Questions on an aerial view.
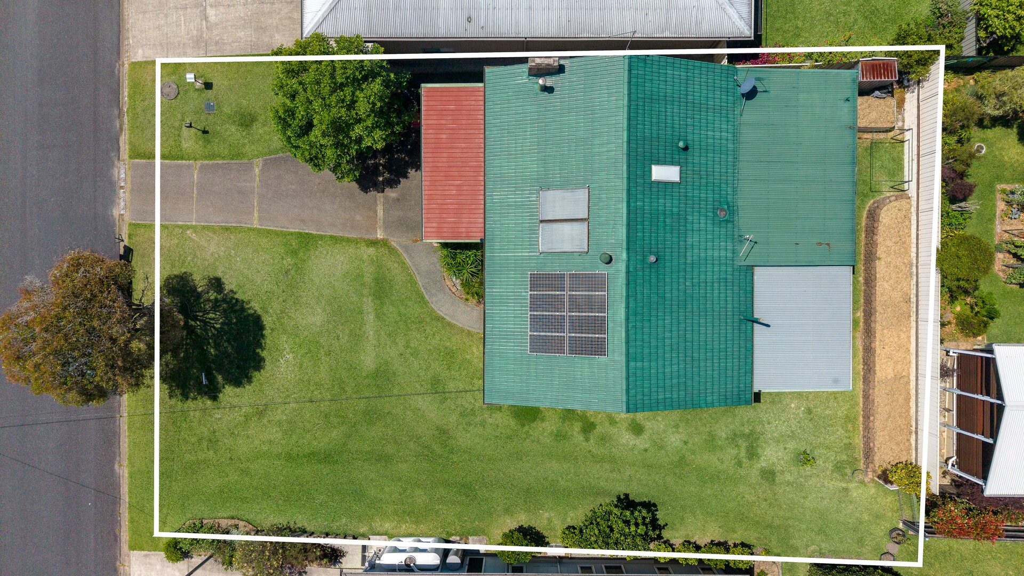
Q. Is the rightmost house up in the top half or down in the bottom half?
bottom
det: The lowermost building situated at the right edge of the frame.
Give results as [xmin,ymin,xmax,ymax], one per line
[942,340,1024,500]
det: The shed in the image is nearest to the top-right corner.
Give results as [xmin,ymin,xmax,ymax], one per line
[852,55,899,92]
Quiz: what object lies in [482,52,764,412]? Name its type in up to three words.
house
